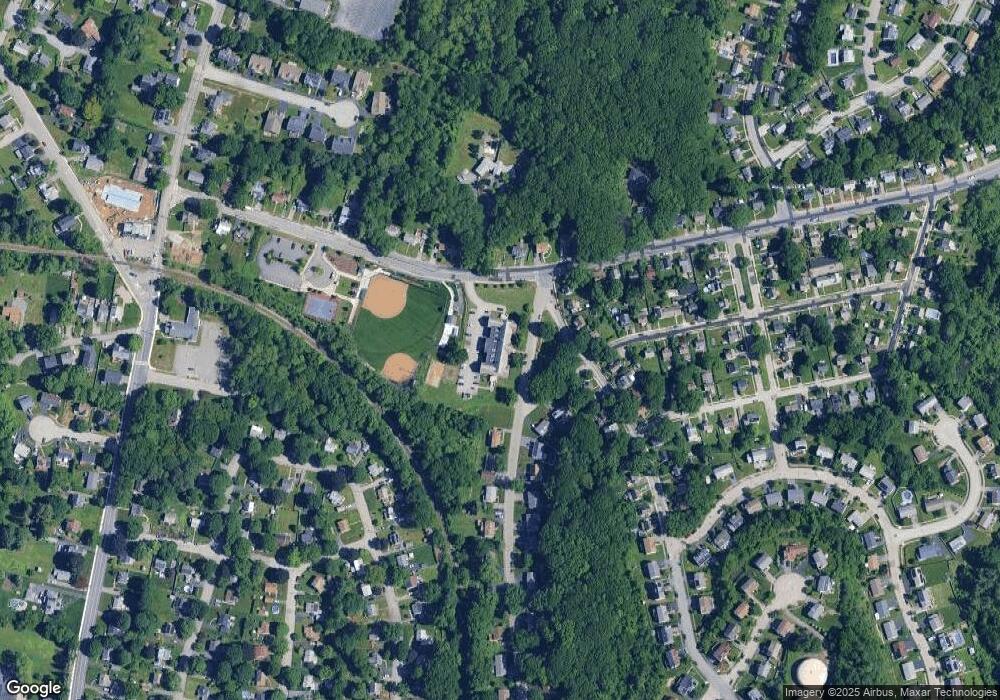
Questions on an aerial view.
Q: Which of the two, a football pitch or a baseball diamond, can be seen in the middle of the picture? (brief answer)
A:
baseball diamond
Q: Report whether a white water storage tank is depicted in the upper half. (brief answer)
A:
No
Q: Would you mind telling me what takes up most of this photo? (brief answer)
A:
trees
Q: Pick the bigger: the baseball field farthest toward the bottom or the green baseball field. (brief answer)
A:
the green baseball field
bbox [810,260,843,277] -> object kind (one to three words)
house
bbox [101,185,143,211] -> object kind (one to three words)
building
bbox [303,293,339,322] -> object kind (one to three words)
basketball court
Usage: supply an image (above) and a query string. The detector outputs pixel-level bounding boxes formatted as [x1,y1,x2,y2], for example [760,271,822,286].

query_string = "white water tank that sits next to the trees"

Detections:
[799,658,827,687]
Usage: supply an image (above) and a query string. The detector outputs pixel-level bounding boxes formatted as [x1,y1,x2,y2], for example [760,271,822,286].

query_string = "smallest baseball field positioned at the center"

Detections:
[383,353,417,383]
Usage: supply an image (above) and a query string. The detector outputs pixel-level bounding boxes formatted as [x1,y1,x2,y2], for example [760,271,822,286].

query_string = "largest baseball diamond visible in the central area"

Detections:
[354,274,448,375]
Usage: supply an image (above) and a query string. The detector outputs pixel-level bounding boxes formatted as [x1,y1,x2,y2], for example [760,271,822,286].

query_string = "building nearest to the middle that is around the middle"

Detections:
[479,315,508,376]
